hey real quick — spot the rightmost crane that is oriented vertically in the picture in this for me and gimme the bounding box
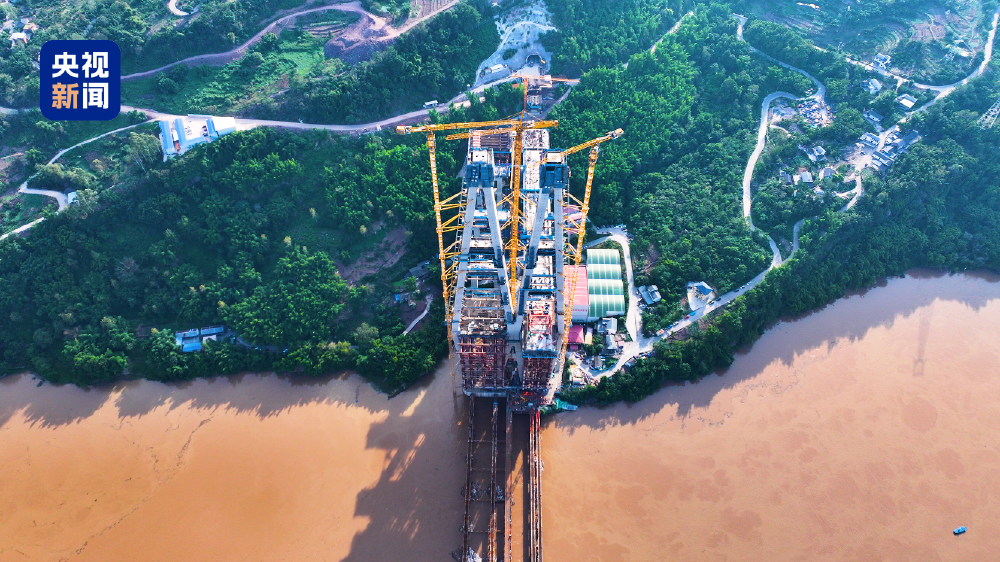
[524,127,627,392]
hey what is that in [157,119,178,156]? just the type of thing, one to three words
building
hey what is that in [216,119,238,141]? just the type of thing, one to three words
building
